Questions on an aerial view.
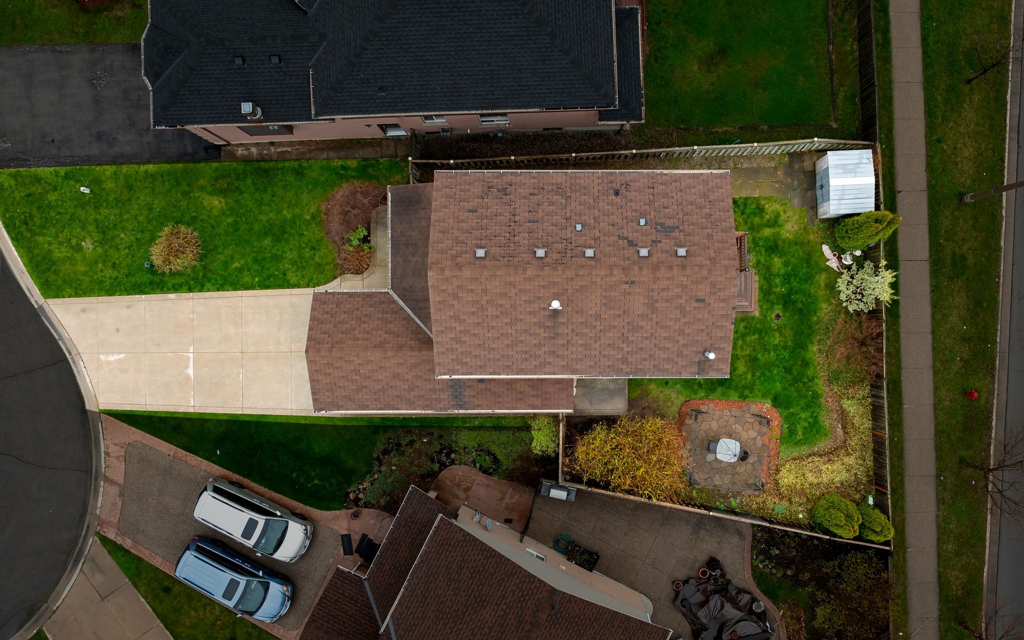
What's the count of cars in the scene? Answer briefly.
2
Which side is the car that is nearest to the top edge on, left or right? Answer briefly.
left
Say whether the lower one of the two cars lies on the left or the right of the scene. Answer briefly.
left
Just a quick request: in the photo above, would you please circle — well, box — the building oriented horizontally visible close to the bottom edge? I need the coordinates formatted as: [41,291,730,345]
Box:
[298,484,674,640]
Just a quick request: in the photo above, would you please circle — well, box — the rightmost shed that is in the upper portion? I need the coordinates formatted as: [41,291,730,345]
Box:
[817,151,876,218]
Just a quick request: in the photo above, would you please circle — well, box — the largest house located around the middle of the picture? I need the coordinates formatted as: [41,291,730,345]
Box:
[305,168,739,414]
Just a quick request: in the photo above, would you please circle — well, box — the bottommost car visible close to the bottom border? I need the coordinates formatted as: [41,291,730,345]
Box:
[175,535,295,618]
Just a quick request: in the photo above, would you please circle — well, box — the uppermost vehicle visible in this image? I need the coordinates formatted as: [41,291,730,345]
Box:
[192,478,313,558]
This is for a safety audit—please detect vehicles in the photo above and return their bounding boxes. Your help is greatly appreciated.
[175,535,295,618]
[192,478,313,558]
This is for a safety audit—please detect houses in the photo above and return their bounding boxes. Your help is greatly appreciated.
[139,0,647,154]
[298,484,674,640]
[305,168,739,414]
